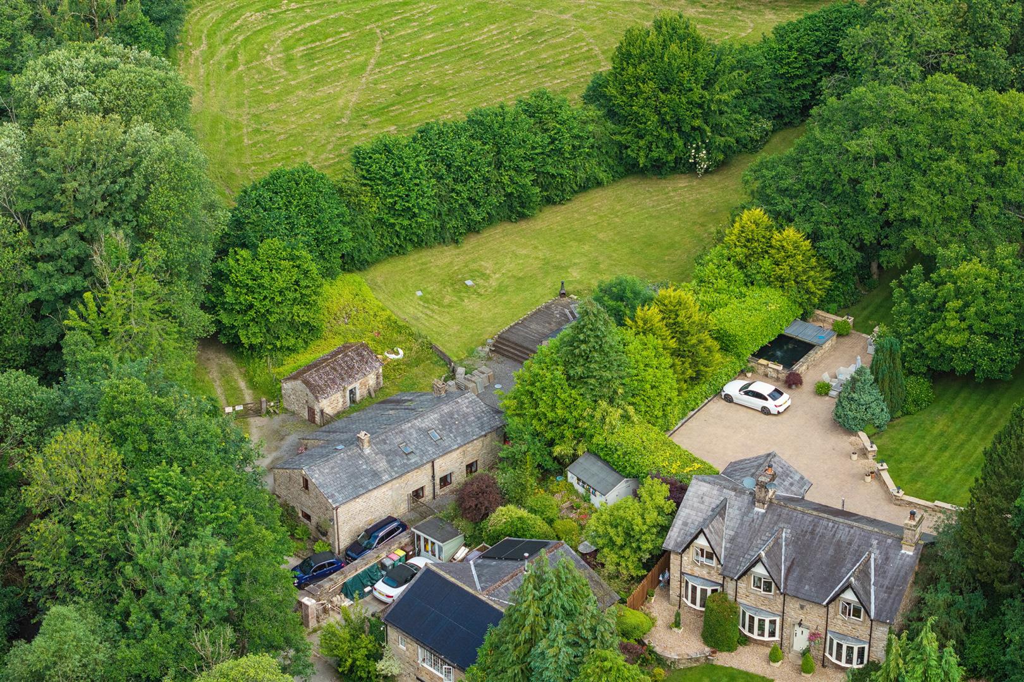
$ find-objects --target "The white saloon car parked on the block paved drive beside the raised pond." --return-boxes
[721,384,793,421]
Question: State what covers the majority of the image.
trees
